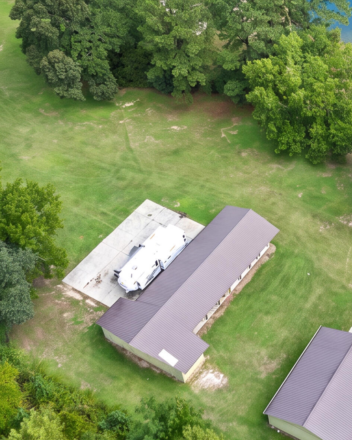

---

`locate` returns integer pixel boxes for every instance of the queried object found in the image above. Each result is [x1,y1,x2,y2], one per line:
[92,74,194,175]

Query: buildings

[262,325,352,440]
[95,204,280,382]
